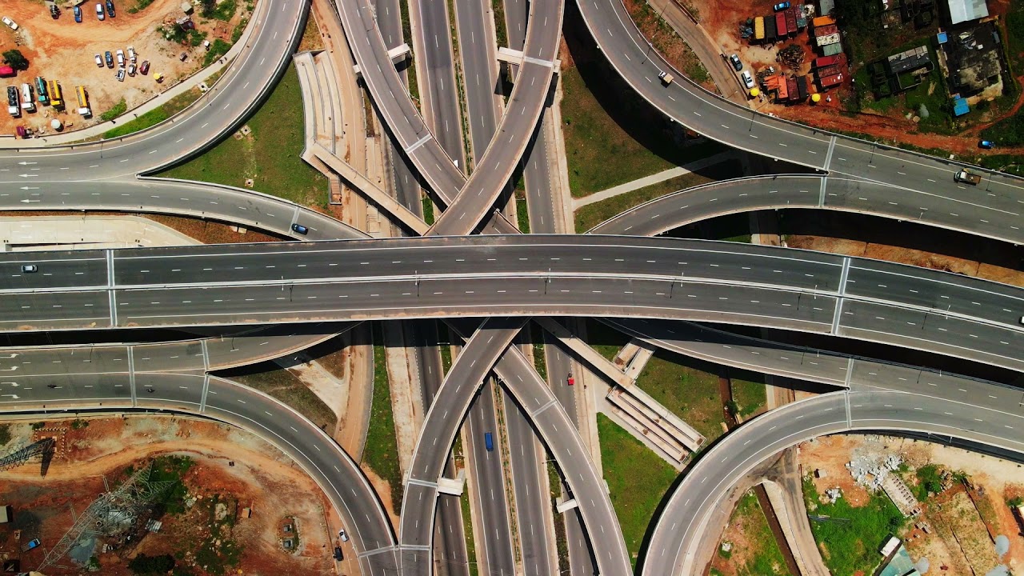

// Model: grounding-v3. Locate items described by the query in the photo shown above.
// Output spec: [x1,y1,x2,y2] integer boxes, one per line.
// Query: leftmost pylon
[0,433,60,471]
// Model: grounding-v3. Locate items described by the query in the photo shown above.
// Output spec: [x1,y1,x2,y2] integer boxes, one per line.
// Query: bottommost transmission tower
[27,461,178,575]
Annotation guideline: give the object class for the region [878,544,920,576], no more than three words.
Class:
house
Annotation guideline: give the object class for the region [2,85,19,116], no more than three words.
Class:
vehicle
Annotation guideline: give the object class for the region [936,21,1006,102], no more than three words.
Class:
building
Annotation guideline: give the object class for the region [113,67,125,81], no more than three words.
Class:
vehicle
